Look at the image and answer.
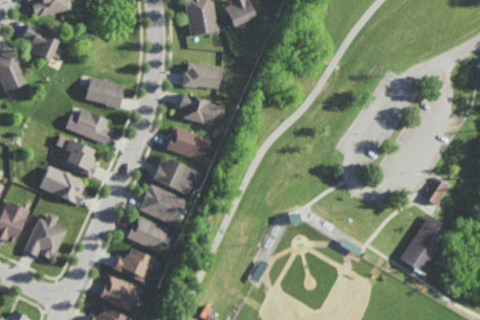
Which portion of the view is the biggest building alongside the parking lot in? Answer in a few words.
bottom right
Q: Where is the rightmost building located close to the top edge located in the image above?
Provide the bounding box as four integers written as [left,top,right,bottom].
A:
[222,0,259,28]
